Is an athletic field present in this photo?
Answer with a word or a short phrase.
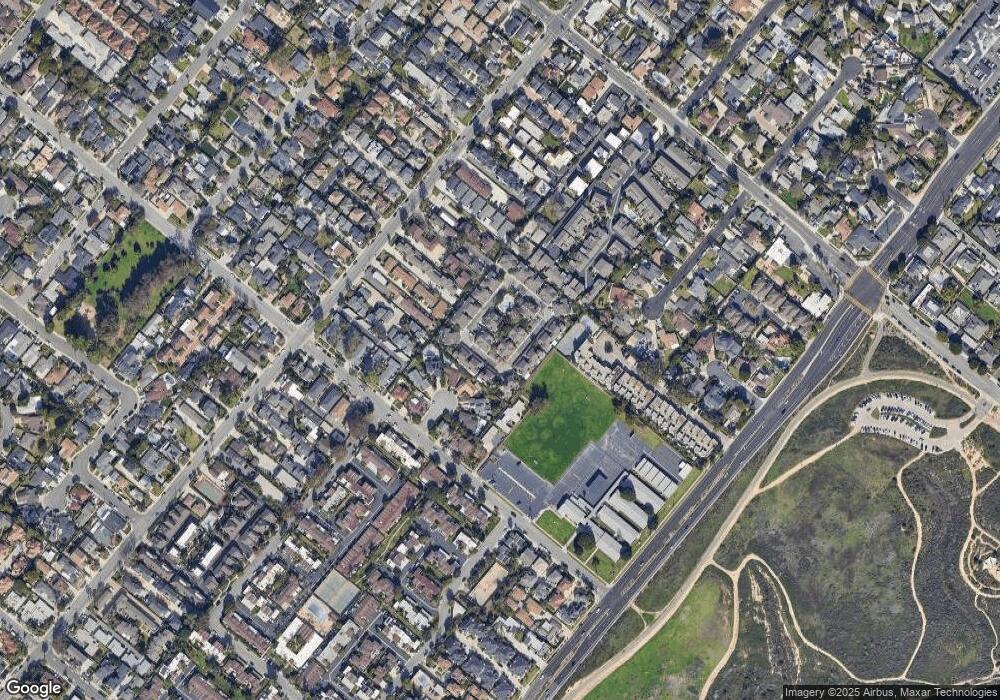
Yes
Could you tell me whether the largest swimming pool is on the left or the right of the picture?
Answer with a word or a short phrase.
left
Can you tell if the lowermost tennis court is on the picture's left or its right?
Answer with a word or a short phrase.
left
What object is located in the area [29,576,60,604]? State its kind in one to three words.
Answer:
house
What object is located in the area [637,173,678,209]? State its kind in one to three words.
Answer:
building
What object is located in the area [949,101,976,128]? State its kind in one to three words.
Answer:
house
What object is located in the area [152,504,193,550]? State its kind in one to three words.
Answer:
building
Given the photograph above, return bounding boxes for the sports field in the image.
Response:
[500,347,616,488]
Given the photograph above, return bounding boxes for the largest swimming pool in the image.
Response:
[298,595,339,633]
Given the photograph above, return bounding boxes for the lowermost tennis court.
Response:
[314,569,360,614]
